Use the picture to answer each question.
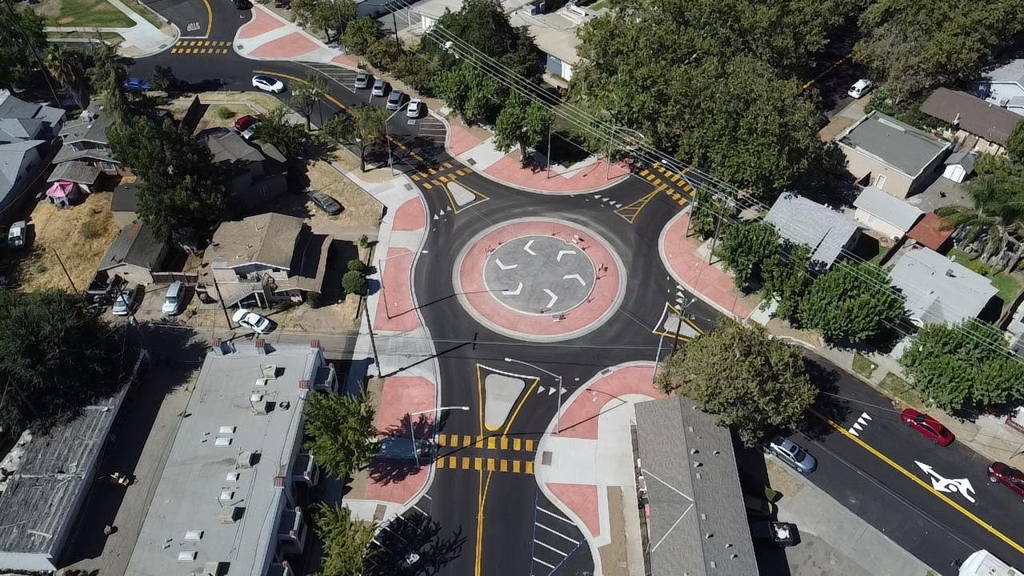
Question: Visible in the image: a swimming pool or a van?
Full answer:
Of the two, only a van appears.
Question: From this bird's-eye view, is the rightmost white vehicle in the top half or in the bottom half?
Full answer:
The rightmost white vehicle is in the bottom half of the image.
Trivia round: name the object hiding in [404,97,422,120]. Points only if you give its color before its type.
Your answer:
white car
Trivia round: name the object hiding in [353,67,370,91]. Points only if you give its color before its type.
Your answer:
gray car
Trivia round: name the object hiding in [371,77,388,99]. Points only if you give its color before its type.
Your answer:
gray car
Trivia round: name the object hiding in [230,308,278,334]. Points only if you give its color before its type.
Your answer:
white car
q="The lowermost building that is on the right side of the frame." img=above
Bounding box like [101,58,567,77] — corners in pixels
[634,396,762,576]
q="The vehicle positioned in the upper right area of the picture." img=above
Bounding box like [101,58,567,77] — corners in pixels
[846,80,874,99]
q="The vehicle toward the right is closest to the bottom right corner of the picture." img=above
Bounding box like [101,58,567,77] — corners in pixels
[956,550,1019,576]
